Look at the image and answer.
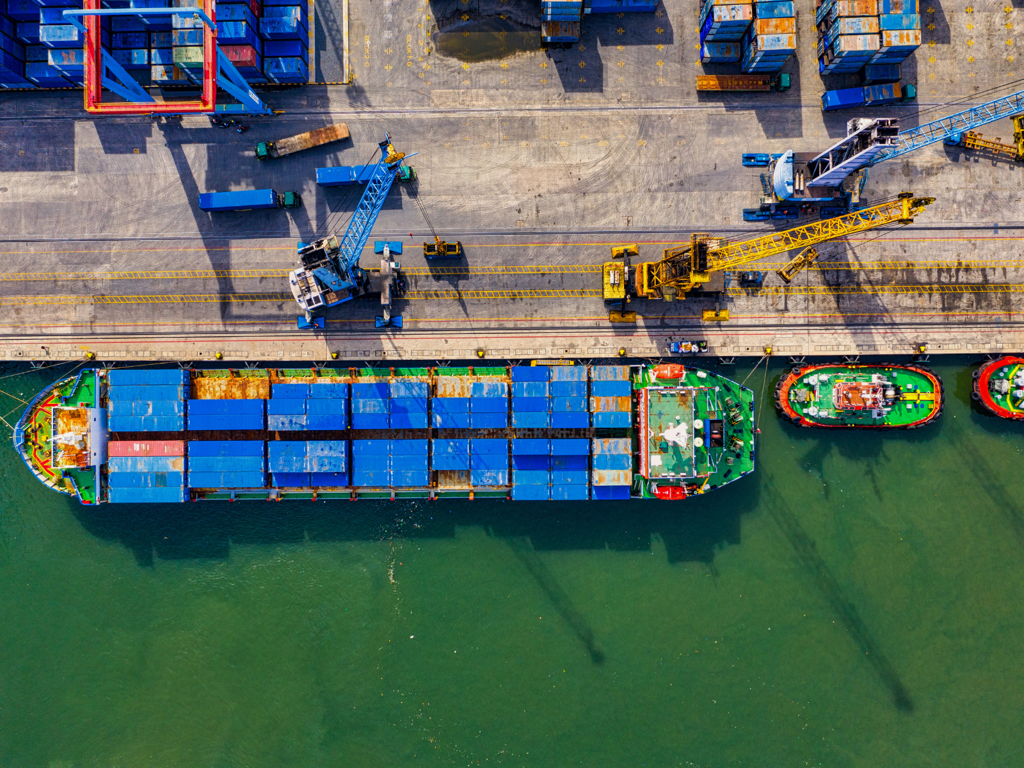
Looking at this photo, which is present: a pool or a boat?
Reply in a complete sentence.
Looking from above, you can make out a boat.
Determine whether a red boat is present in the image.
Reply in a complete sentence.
Yes, the picture does show a red boat.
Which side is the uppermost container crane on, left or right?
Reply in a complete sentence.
It is on the left.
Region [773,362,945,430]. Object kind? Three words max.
boat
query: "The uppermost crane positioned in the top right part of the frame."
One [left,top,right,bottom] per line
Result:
[741,73,1024,221]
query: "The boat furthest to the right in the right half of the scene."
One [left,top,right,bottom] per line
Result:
[968,354,1024,423]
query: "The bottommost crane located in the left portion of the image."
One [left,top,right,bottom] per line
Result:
[289,131,443,328]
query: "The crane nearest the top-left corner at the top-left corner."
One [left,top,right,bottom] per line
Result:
[61,0,289,119]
